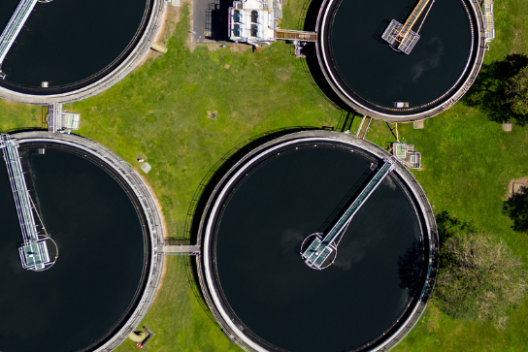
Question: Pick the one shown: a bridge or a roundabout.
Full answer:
There is a bridge in the scene.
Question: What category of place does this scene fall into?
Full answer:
This image shows an industrial area.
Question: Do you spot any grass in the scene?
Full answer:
Yes, grass shows up in the scene.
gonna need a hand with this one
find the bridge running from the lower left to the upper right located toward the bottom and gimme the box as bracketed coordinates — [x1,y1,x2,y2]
[297,158,399,270]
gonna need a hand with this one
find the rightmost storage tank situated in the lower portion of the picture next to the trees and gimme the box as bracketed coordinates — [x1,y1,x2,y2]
[195,130,438,352]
